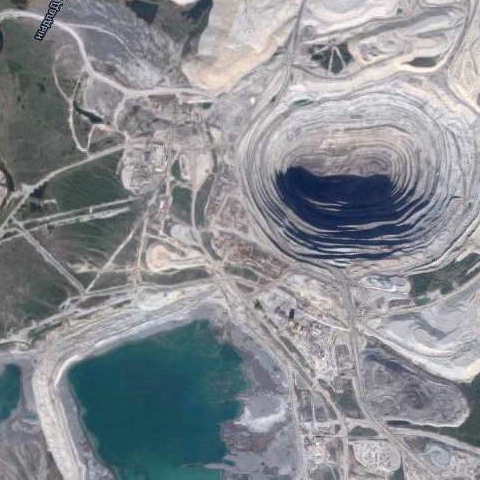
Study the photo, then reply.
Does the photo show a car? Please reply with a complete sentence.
No, the picture doesn't show any car.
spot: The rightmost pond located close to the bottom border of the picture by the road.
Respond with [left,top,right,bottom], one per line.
[68,317,249,480]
